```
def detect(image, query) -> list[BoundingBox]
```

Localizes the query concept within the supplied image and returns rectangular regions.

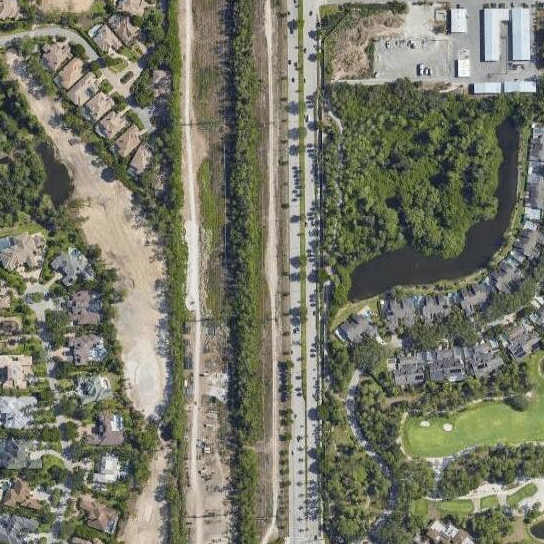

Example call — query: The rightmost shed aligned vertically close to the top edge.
[512,8,530,61]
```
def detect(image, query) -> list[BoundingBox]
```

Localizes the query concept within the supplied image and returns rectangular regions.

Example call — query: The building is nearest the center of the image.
[336,313,379,343]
